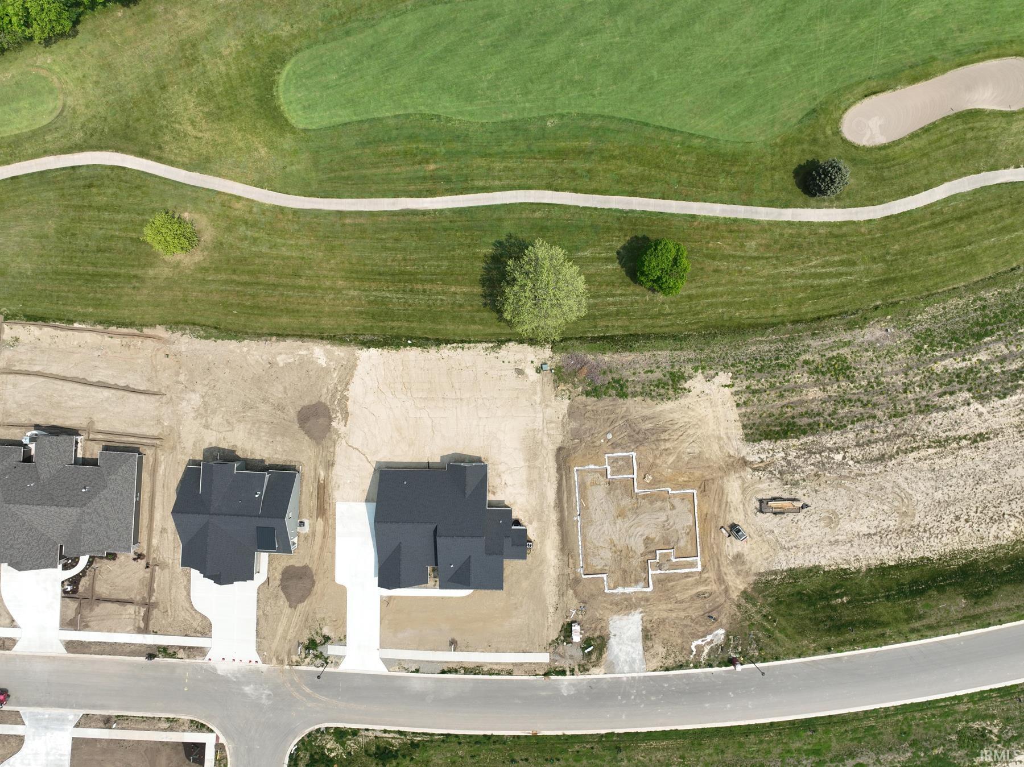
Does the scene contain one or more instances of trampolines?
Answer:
No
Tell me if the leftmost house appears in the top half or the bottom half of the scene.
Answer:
bottom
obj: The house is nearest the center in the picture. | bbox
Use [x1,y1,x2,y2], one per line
[375,464,527,590]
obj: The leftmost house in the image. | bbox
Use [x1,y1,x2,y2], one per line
[0,435,141,573]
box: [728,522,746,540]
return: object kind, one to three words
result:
work vehicle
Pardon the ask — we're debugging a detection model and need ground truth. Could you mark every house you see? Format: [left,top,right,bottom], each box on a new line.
[375,464,527,590]
[0,435,141,573]
[171,461,300,586]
